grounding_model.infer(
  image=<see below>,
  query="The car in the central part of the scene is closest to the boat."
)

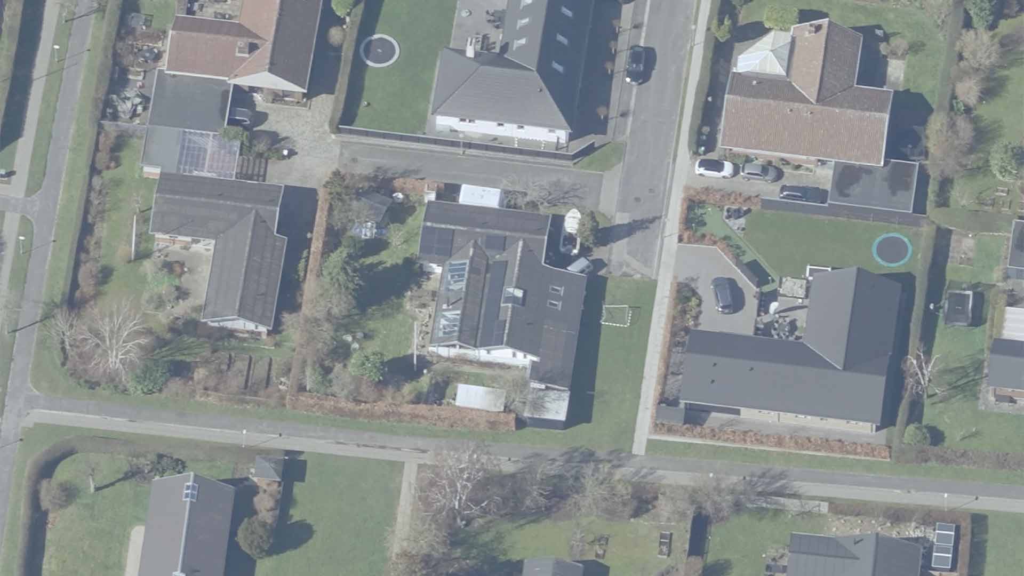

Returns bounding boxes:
[562,253,596,273]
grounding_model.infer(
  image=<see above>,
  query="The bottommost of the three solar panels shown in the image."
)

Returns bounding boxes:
[493,320,506,344]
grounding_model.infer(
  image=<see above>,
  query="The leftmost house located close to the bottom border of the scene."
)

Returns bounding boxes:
[141,473,235,576]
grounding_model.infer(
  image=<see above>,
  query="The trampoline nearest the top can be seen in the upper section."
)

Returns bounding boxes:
[360,35,399,67]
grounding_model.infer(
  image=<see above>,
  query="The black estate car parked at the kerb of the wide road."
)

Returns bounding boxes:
[627,46,648,83]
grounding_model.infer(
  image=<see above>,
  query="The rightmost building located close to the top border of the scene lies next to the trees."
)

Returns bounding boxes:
[720,18,893,170]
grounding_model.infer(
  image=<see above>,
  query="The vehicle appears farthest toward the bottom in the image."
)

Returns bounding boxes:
[712,279,736,315]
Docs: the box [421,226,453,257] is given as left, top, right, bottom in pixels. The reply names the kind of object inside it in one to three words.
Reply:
solar panel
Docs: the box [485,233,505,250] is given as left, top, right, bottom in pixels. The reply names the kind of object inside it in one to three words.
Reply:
solar panel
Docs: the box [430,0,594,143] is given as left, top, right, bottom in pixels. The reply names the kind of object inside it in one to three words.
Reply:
house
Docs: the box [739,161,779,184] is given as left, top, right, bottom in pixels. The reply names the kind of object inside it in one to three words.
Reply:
car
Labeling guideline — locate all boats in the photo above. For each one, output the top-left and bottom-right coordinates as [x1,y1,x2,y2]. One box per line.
[561,208,580,256]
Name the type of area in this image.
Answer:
residential area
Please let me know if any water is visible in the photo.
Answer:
No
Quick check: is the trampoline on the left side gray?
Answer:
Yes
